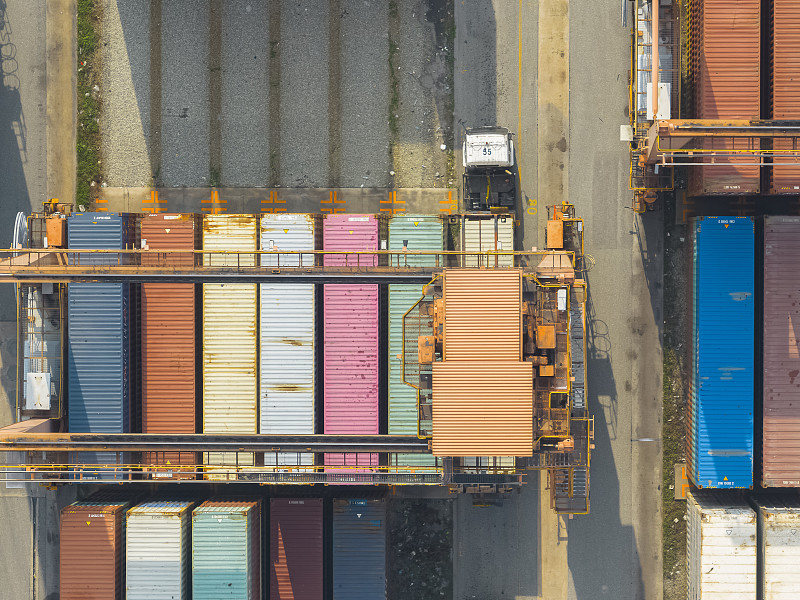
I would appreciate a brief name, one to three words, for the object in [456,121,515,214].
truck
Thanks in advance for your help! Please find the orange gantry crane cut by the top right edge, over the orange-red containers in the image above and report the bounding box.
[616,0,800,227]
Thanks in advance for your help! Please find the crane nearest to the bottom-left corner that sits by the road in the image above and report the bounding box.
[0,192,595,520]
